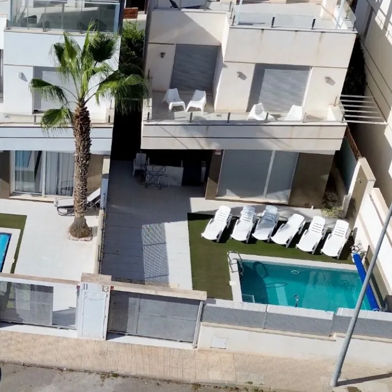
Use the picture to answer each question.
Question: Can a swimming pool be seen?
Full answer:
Yes, there's a swimming pool here.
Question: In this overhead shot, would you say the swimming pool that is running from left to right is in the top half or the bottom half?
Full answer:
You can find the swimming pool that is running from left to right in the bottom half.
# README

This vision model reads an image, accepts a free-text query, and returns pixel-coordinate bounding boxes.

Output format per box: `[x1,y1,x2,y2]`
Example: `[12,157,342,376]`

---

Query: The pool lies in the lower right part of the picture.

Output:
[228,250,374,329]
